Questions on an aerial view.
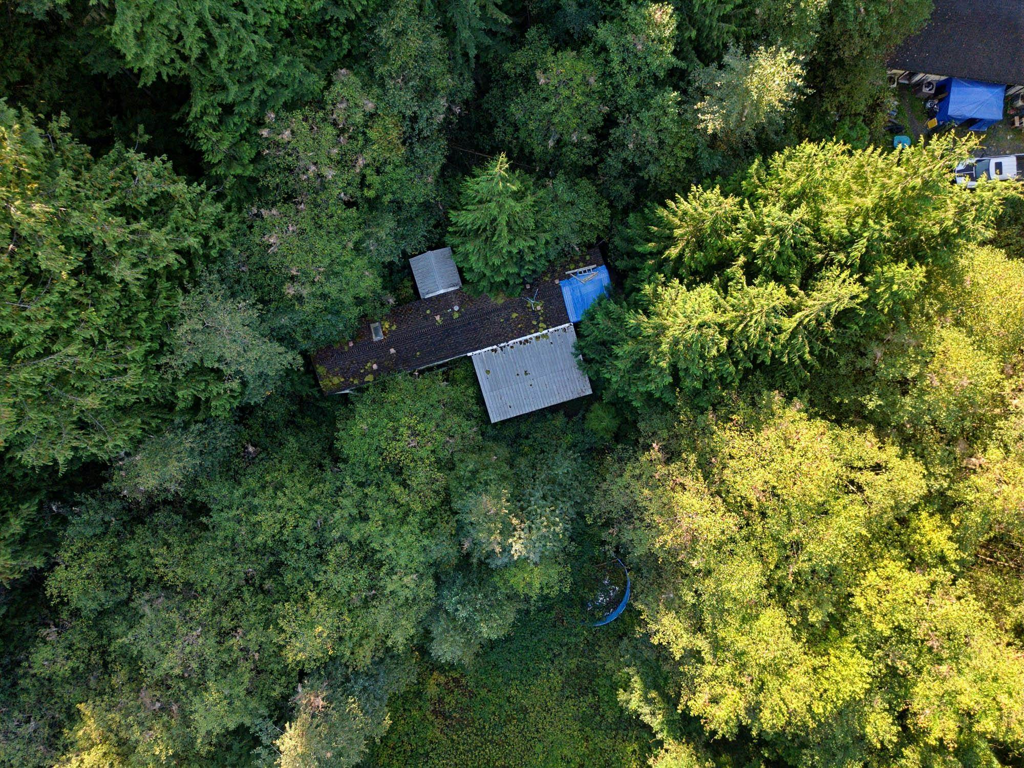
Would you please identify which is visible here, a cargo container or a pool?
pool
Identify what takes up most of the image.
trees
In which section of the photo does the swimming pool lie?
bottom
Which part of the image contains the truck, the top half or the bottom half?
top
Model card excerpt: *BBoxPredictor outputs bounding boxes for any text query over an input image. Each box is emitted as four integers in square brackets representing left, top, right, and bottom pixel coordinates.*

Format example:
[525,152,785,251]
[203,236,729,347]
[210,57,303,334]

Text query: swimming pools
[560,551,631,627]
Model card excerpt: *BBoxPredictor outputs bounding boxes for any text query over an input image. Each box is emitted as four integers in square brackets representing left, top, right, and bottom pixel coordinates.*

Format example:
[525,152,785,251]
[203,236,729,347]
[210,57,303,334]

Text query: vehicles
[950,155,1024,191]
